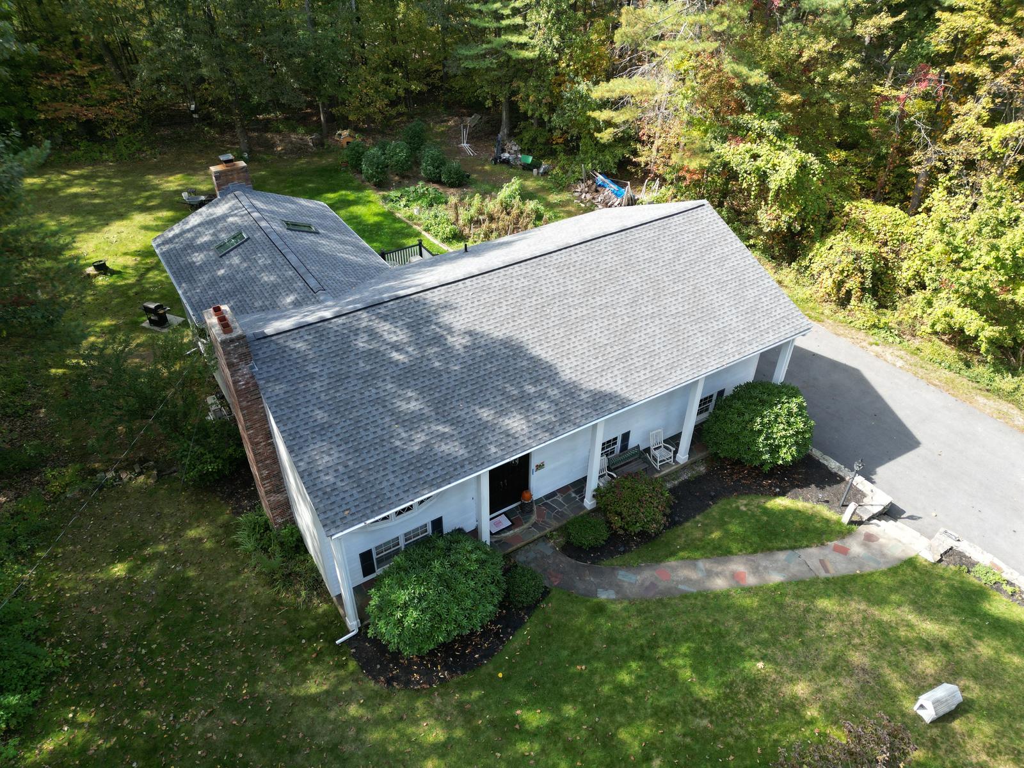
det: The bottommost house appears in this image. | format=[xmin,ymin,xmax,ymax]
[152,149,814,656]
